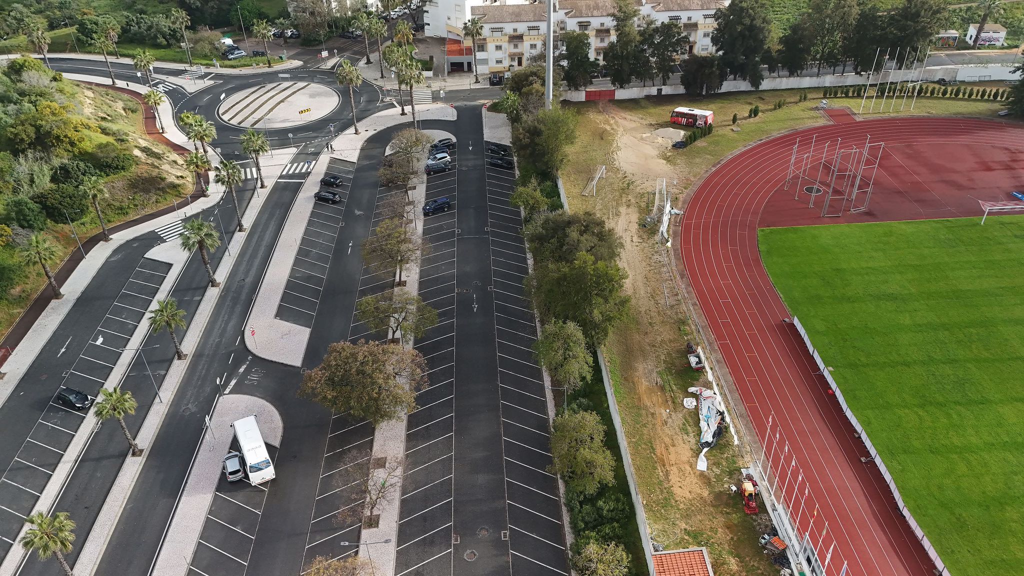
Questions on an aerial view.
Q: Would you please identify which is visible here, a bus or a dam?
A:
bus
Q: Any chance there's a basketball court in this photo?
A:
No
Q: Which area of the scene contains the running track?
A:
right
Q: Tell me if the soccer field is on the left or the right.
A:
right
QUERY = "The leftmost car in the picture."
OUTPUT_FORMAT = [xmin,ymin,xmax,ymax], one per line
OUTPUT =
[50,384,93,411]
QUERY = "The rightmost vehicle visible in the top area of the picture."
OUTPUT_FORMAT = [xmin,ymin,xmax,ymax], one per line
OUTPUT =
[667,103,714,127]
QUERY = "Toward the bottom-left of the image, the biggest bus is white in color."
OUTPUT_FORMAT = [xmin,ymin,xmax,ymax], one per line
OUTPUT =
[229,413,280,491]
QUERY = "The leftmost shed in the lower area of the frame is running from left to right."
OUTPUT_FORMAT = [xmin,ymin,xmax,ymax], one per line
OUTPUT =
[651,545,716,576]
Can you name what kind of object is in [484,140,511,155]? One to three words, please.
car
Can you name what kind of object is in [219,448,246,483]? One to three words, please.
car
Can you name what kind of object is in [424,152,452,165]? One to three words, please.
vehicle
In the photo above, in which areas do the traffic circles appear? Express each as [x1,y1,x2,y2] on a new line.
[218,81,338,128]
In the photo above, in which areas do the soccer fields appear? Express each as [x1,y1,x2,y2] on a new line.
[762,214,1024,576]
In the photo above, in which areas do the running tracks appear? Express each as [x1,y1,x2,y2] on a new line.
[667,106,1024,576]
